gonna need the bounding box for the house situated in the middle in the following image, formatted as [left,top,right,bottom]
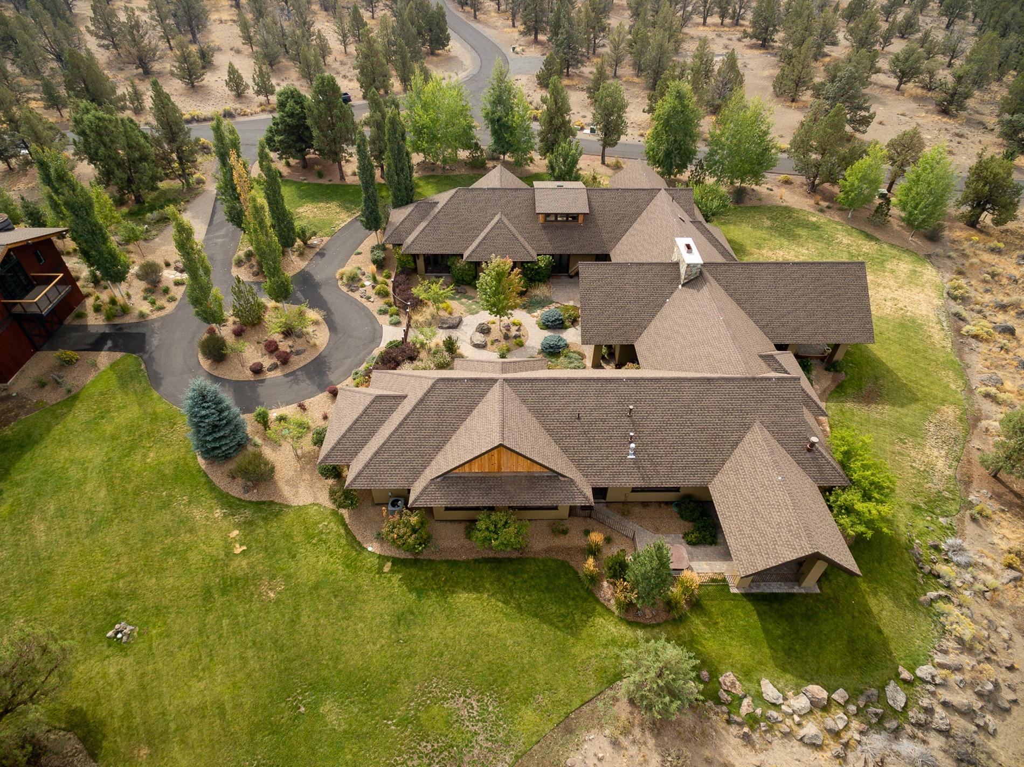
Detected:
[315,159,875,588]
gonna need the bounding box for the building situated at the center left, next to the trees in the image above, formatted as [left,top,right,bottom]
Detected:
[0,229,89,383]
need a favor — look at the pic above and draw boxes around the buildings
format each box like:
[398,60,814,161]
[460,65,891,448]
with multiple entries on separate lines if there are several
[315,159,875,588]
[0,229,89,383]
